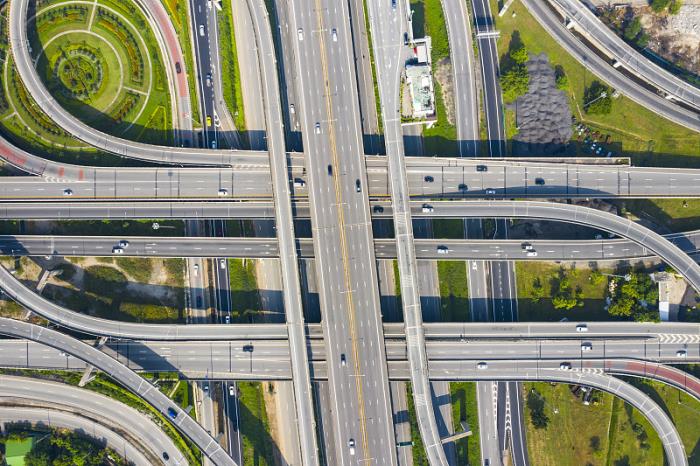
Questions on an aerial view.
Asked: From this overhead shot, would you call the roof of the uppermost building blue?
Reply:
No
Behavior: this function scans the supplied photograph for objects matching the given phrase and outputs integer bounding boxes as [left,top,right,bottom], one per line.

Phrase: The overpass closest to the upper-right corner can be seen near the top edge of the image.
[552,0,700,111]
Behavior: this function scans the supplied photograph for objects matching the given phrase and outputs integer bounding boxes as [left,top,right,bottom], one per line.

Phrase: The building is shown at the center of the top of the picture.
[401,38,438,127]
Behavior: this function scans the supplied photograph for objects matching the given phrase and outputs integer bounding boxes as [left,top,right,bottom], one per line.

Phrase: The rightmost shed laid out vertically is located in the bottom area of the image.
[655,280,669,321]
